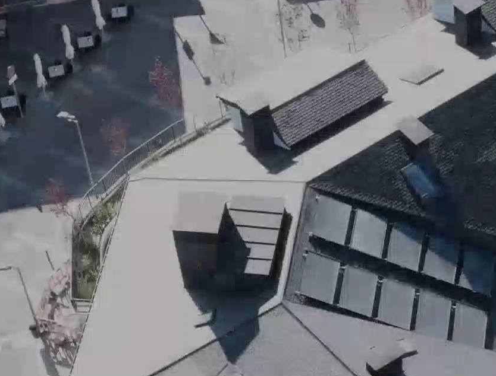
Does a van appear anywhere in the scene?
No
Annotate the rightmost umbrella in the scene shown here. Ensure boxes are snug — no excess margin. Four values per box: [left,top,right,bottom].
[94,0,110,36]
